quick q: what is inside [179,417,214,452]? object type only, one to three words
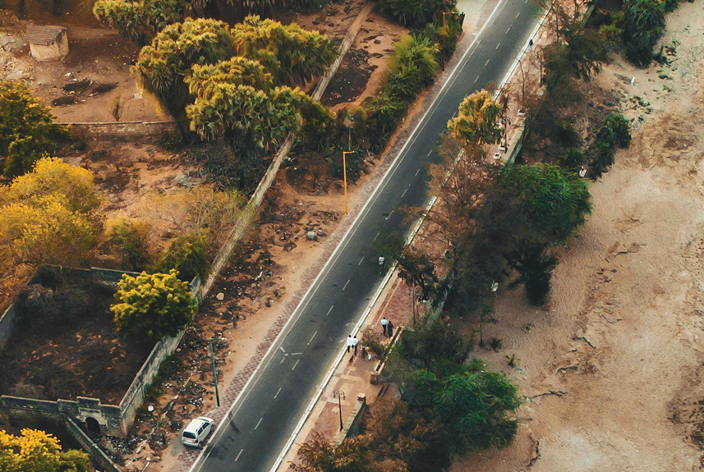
car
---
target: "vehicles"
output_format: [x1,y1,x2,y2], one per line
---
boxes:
[375,257,385,275]
[179,417,214,452]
